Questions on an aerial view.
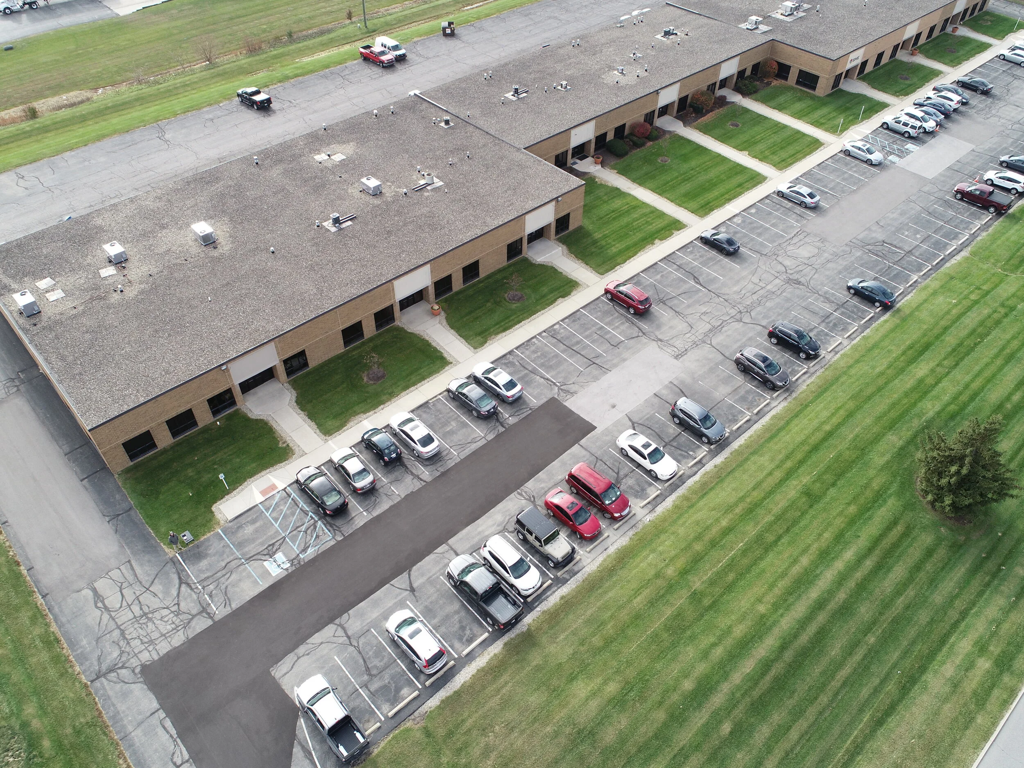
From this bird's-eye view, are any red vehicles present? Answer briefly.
Yes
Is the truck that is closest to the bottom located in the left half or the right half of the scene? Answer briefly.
left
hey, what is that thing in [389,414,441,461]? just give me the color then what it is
white car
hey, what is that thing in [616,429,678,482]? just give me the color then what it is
white car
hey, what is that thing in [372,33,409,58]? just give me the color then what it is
white vehicle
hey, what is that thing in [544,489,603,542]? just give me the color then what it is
red car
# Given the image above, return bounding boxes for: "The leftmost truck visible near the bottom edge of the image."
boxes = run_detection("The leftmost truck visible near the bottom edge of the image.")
[295,675,385,768]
